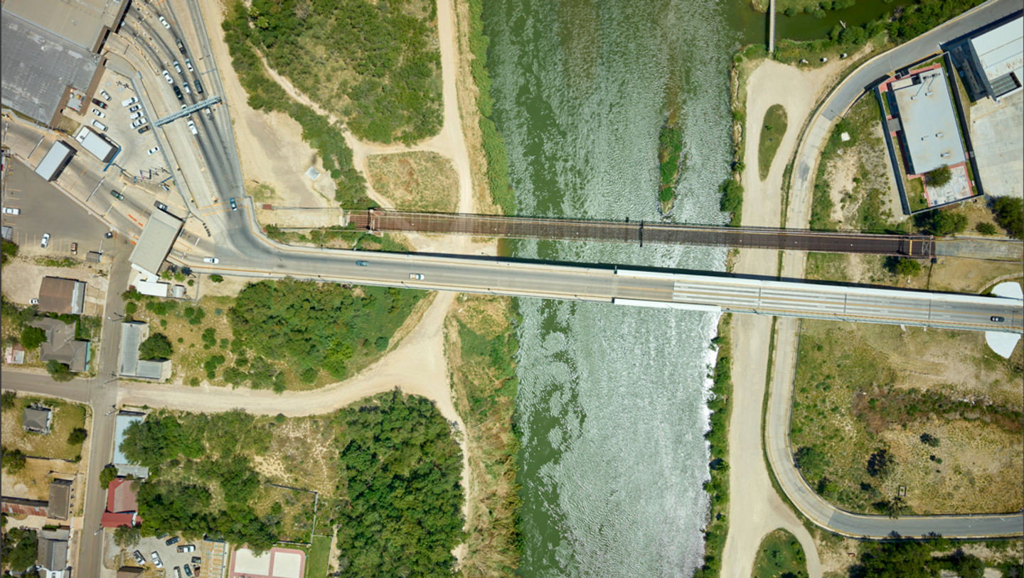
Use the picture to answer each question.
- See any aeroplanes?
No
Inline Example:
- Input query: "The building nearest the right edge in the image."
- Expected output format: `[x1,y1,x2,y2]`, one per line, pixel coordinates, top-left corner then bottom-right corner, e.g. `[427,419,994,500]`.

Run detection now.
[957,17,1024,87]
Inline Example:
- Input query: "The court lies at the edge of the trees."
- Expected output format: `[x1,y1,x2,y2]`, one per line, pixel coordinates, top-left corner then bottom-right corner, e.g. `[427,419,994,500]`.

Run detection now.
[229,544,306,578]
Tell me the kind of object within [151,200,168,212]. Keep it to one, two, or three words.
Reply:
vehicle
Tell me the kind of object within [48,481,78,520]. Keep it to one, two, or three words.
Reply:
building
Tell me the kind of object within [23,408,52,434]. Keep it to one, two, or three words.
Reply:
house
